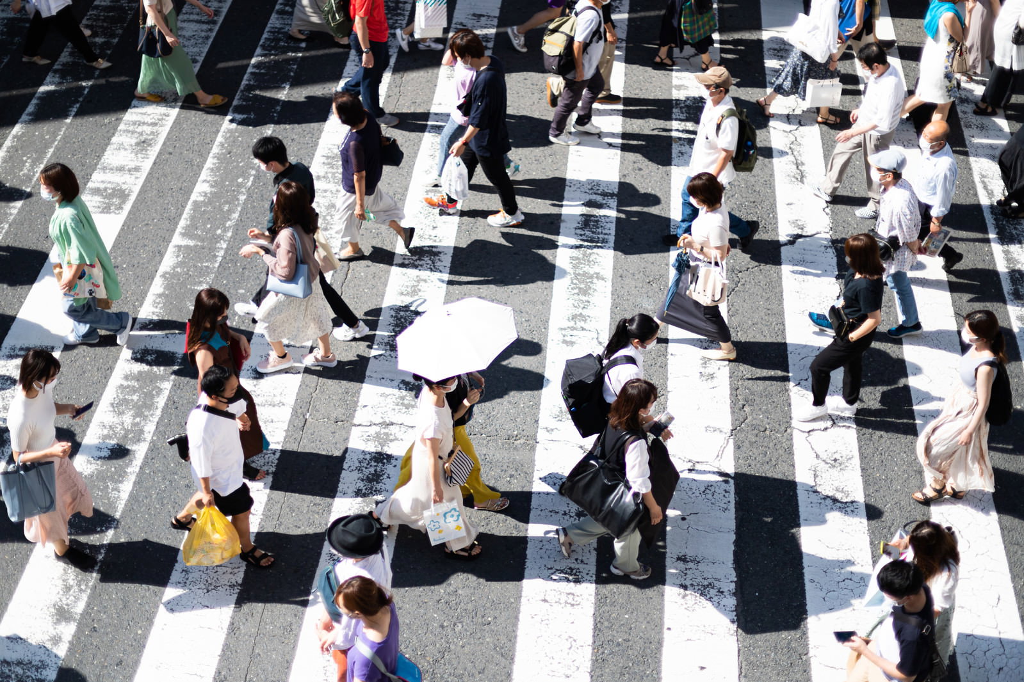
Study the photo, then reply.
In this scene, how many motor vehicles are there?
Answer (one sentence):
I count no motor vehicles.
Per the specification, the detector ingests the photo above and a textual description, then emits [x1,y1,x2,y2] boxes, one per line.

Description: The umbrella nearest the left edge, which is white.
[395,299,519,383]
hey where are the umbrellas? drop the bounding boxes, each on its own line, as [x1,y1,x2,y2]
[395,299,519,383]
[664,234,689,318]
